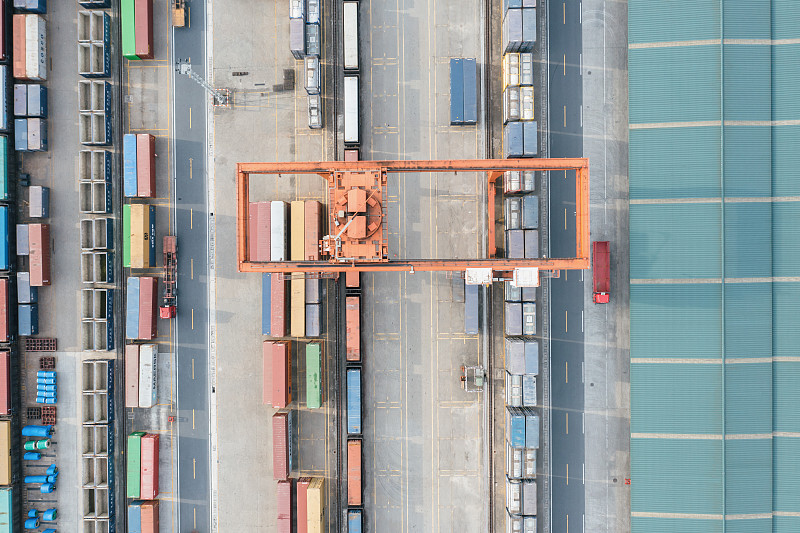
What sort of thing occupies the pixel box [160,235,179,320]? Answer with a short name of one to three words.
vehicle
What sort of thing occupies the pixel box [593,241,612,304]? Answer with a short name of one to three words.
vehicle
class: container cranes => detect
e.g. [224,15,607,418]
[238,158,591,288]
